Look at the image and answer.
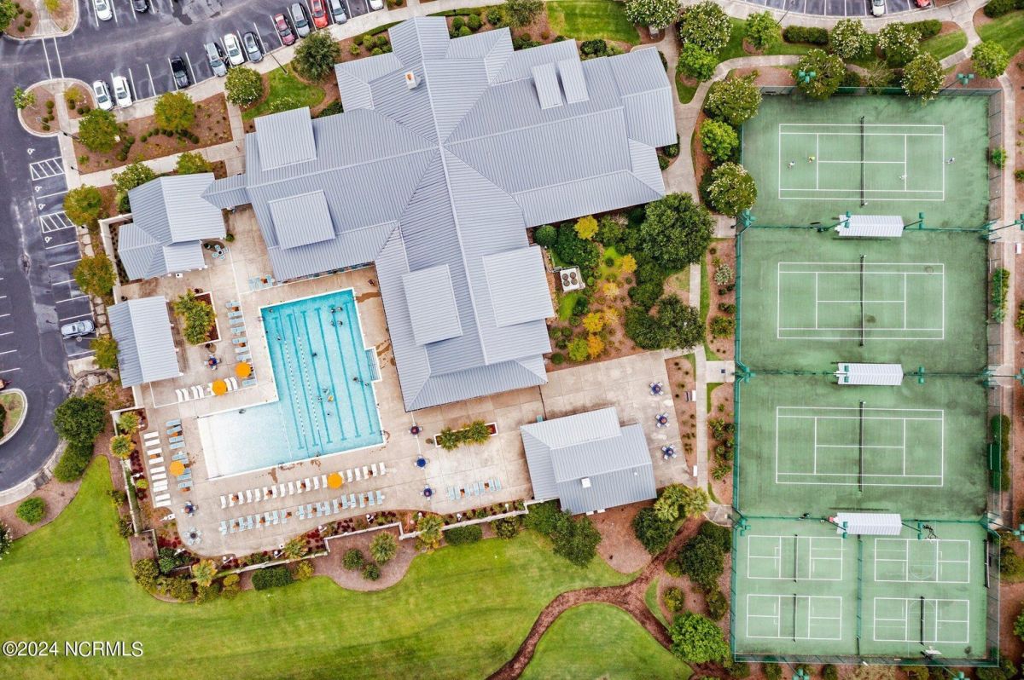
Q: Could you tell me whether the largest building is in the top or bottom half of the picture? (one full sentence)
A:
Seen from above, the largest building lies in the top half of the view.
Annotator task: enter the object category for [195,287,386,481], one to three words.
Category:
swimming pool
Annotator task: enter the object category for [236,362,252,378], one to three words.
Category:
umbrella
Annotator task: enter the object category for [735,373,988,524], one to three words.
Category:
tennis court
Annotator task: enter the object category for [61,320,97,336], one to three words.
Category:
car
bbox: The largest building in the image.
[245,16,677,412]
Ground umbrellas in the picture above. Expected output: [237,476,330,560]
[327,473,343,488]
[213,380,228,395]
[236,362,252,378]
[170,461,185,476]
